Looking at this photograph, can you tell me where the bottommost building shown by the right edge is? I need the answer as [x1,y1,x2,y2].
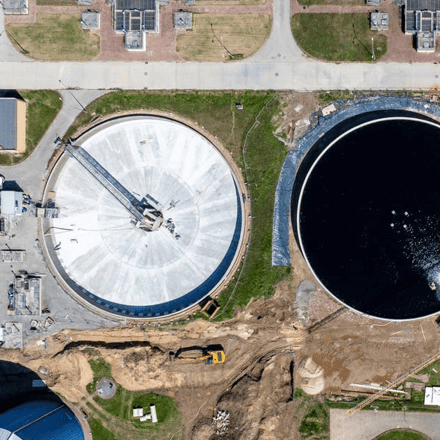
[415,30,434,53]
